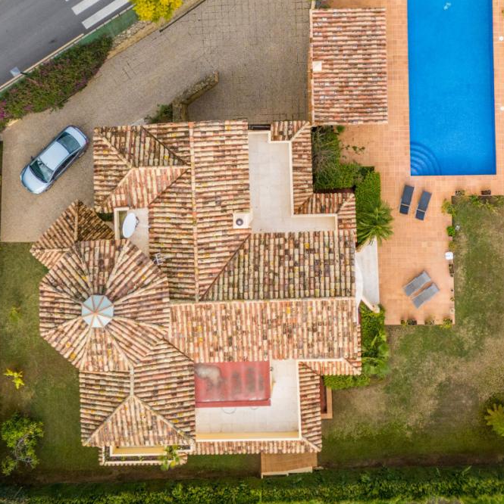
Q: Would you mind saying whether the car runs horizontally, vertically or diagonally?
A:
diagonally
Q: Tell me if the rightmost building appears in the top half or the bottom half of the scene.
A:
top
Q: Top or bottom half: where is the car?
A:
top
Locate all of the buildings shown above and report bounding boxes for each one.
[309,7,389,125]
[30,117,380,469]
